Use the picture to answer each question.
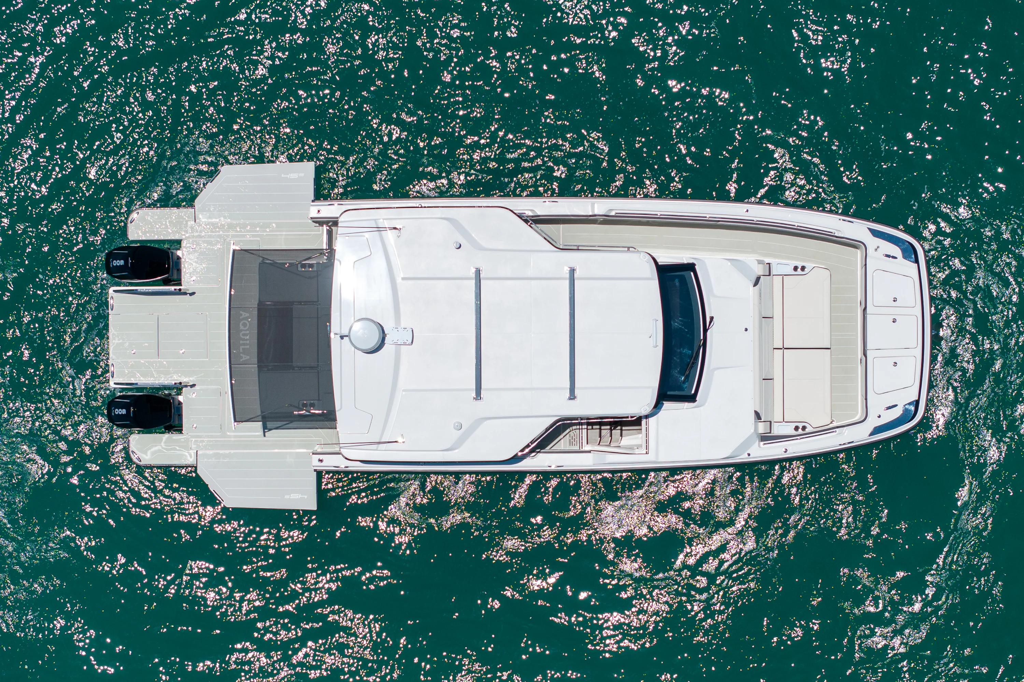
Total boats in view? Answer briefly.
one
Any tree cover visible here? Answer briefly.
No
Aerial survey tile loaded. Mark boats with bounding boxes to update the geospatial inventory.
[103,162,934,510]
